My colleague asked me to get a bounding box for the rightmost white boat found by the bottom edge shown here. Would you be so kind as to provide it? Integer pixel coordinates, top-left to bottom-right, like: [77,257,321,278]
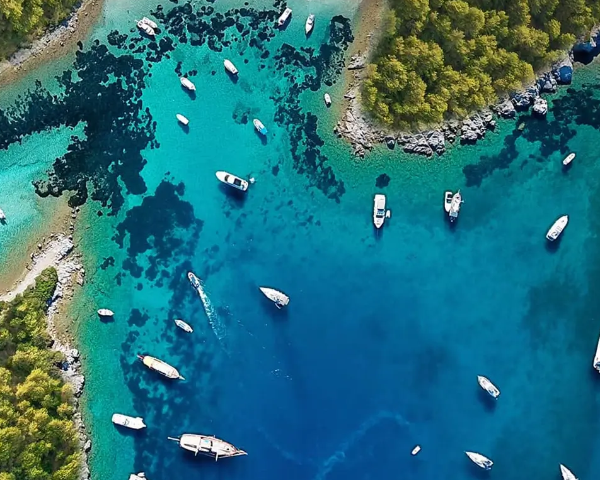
[560,465,578,480]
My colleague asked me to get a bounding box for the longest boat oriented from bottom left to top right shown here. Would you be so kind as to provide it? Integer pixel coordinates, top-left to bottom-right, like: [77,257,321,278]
[547,216,569,243]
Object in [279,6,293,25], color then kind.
white boat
